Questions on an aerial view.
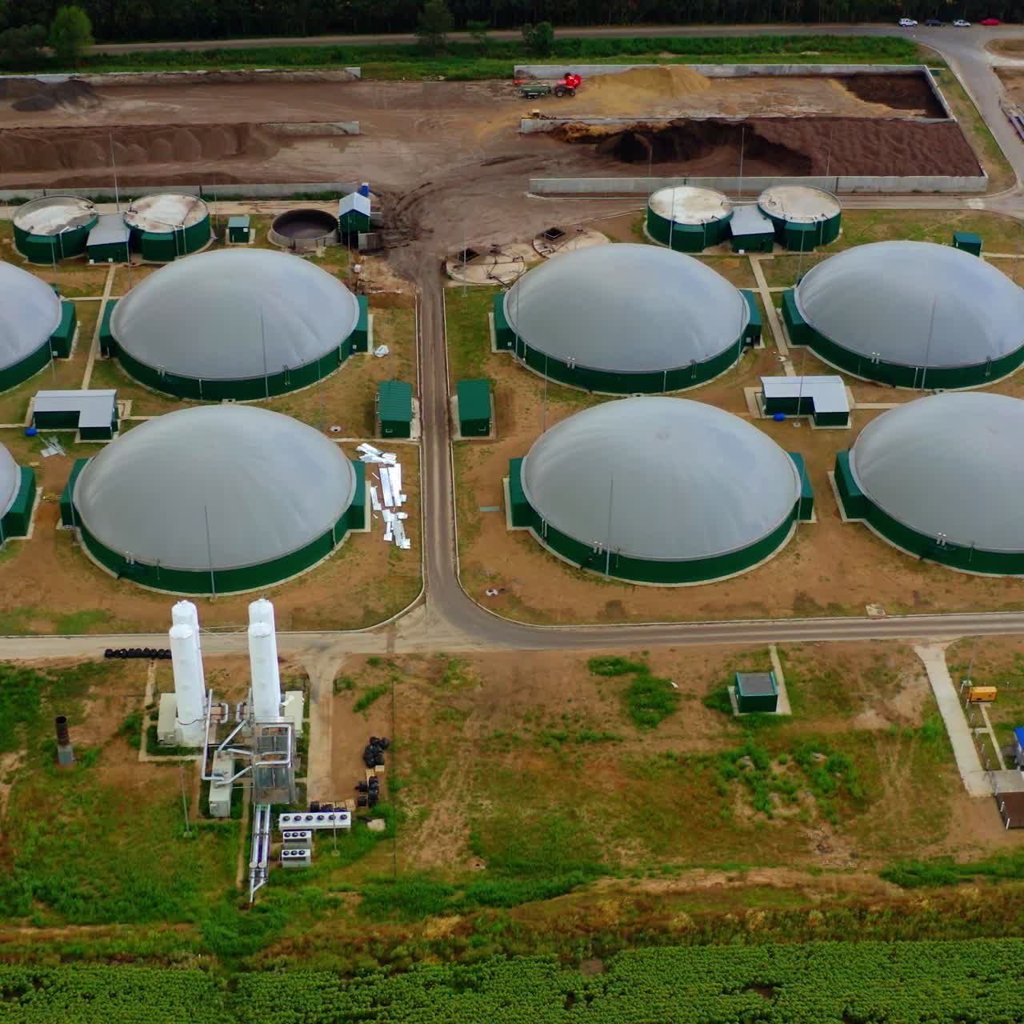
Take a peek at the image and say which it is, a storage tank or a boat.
storage tank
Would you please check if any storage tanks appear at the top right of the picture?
Yes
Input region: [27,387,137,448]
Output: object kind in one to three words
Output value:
shed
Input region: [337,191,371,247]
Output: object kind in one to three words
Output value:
house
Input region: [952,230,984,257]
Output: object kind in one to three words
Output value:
shed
